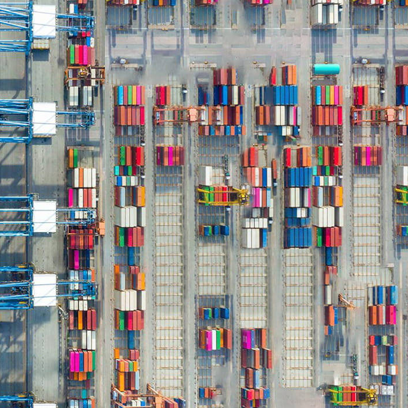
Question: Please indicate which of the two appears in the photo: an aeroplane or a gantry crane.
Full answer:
This aerial view contains a gantry crane.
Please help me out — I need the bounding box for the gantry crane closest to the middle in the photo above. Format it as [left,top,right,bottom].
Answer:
[196,188,249,206]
